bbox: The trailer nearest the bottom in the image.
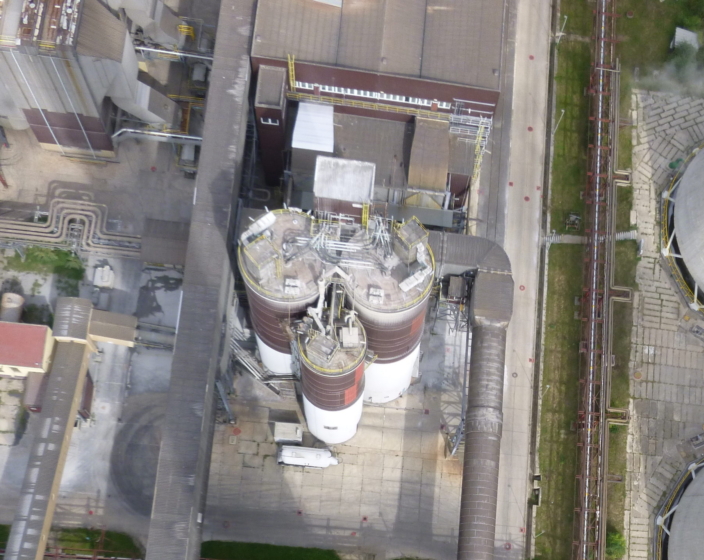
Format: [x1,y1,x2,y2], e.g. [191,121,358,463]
[279,445,341,466]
